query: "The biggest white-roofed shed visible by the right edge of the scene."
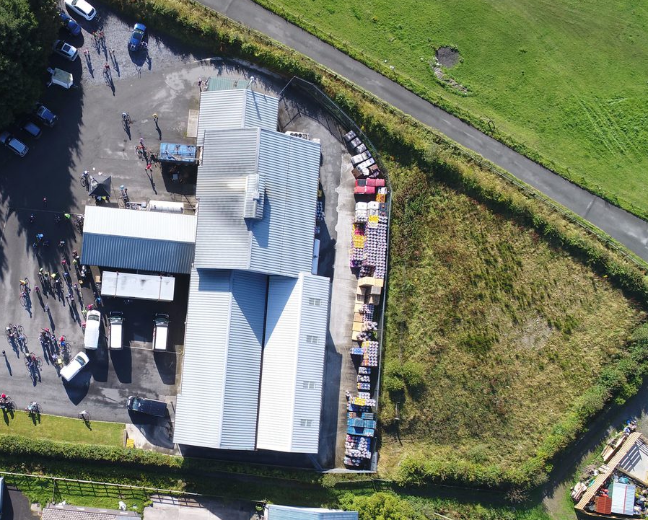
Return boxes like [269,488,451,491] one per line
[604,482,636,515]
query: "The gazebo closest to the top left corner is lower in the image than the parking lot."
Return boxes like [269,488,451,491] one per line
[88,174,112,197]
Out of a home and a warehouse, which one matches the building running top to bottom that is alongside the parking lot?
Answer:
warehouse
